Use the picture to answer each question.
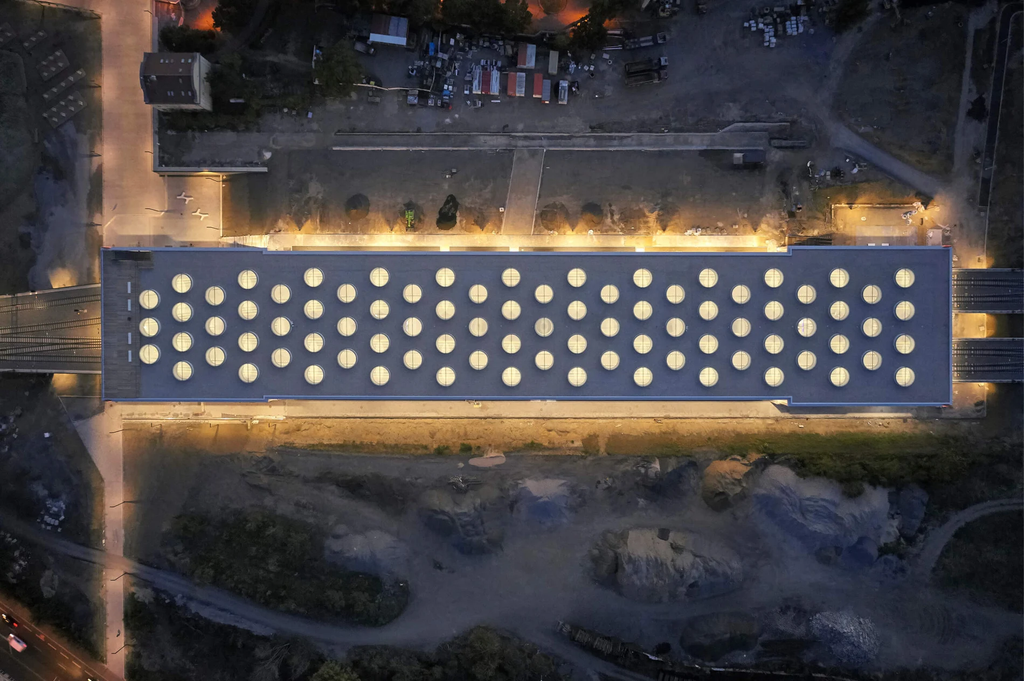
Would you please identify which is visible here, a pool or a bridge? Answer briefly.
bridge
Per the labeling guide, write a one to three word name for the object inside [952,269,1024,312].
bridge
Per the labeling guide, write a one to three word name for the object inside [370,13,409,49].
shed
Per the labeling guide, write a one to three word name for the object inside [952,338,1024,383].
bridge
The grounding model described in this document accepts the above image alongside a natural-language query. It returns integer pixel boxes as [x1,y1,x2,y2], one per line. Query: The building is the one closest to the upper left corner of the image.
[133,51,211,110]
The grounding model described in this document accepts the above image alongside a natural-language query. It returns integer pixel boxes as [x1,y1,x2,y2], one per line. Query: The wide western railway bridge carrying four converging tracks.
[0,283,102,374]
